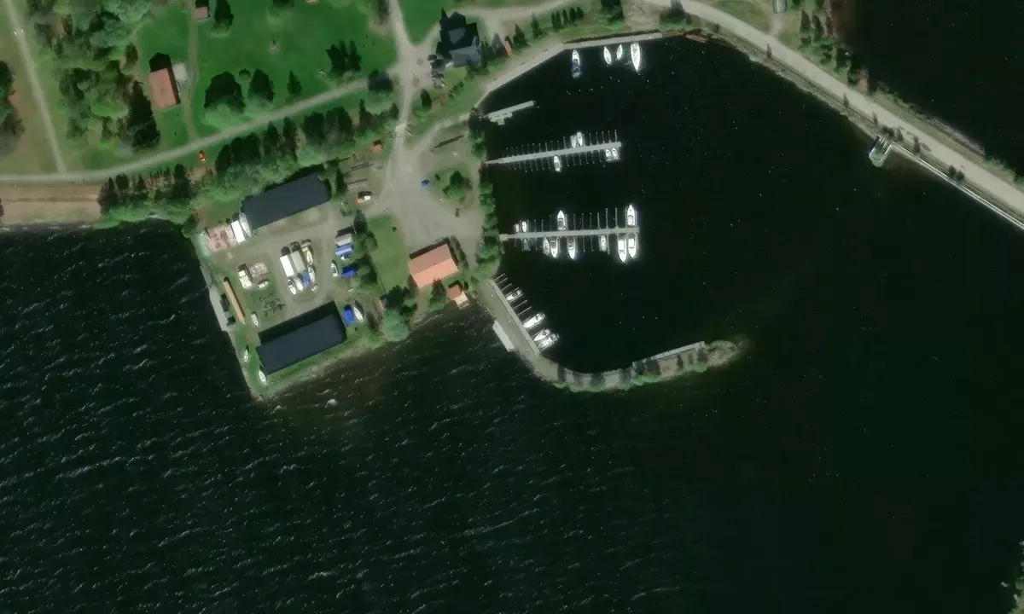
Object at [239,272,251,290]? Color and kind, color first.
white vehicle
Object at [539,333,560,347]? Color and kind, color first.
white boat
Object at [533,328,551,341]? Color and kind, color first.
white boat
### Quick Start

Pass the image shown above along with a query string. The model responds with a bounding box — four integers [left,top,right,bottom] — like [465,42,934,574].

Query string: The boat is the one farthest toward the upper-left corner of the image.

[238,213,250,236]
